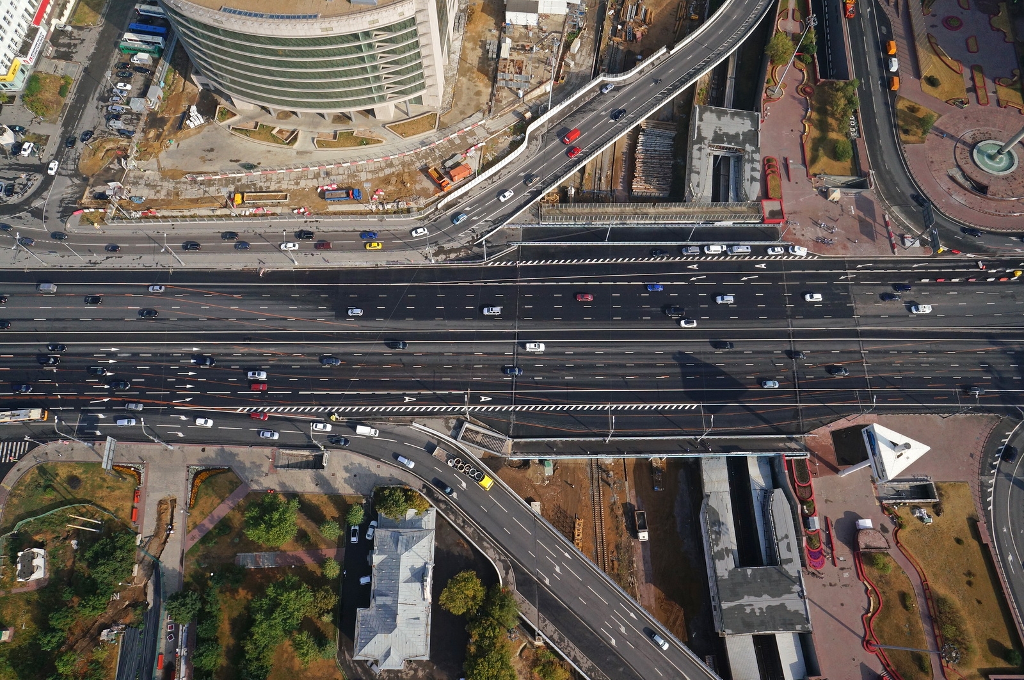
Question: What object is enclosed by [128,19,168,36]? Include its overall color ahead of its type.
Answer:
blue vehicle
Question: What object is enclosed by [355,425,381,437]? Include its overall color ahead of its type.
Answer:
white vehicle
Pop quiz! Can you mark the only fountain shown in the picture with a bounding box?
[971,127,1024,176]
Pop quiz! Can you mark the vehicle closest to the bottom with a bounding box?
[365,660,384,677]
